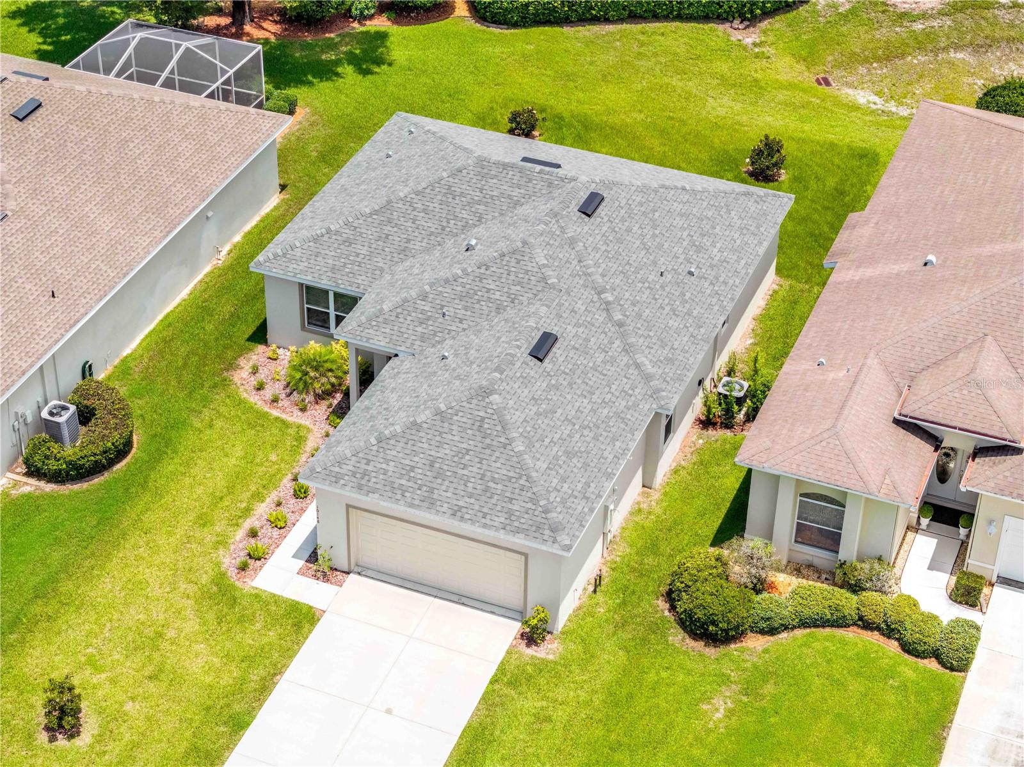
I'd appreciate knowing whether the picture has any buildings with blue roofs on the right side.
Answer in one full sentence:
No, I can find no building with a blue roof on the right side.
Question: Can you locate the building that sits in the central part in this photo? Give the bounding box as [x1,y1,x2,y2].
[248,110,796,631]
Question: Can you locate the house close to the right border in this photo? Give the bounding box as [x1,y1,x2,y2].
[732,98,1024,581]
